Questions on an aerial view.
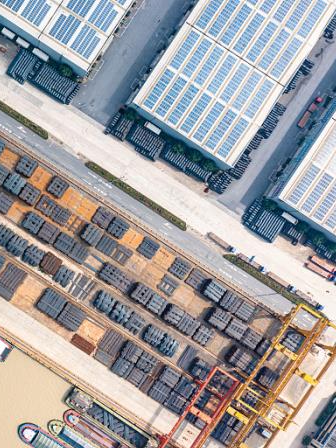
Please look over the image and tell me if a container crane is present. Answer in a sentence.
Yes, a container crane can be made out from above.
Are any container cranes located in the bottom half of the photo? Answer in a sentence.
Yes, a container crane appears in the bottom half of the photo.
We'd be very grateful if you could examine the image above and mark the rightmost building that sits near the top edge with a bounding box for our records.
[126,0,336,172]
